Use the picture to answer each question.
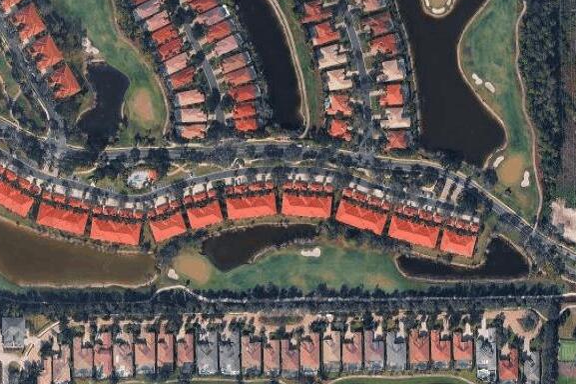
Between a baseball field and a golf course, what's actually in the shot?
golf course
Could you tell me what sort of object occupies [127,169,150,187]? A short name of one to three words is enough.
swimming pool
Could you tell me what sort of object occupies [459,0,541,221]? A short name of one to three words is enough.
golf course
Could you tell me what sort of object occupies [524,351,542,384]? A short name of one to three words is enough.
house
